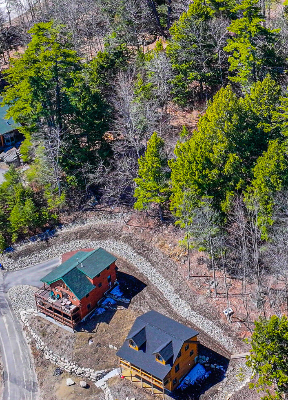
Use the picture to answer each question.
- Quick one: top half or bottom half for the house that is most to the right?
bottom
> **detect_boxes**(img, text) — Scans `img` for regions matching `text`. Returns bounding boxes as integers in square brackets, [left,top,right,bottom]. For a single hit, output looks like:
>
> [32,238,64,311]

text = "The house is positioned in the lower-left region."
[35,247,120,334]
